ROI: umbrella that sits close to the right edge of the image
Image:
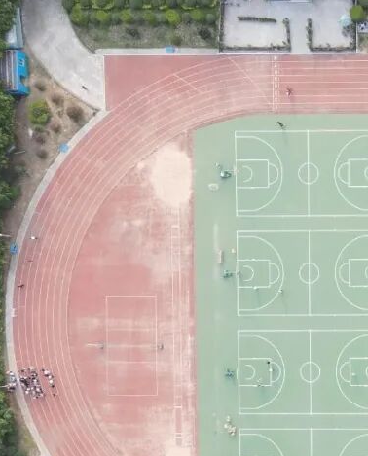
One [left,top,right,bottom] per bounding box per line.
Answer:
[338,12,352,27]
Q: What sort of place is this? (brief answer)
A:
sports ground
